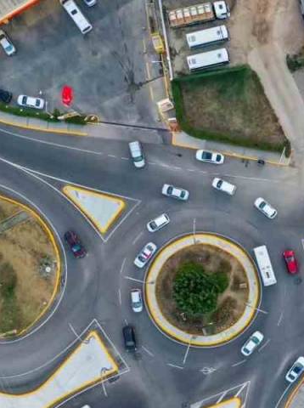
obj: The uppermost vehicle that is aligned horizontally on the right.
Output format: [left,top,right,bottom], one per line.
[168,1,232,29]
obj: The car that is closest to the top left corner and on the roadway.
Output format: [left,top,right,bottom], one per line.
[0,29,18,57]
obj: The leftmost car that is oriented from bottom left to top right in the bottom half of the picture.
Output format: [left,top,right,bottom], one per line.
[134,241,157,268]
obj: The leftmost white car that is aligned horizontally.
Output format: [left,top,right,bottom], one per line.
[17,96,46,109]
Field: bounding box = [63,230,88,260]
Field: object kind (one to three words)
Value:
car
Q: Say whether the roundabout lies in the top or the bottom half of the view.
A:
bottom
